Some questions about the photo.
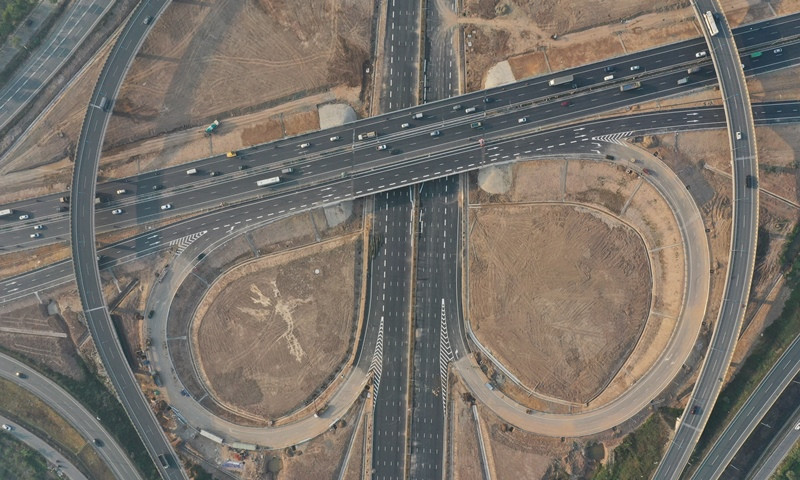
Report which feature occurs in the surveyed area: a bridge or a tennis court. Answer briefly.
bridge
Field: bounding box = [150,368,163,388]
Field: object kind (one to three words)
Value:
vehicle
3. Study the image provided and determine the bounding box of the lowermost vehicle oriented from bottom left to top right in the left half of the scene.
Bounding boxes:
[310,408,327,421]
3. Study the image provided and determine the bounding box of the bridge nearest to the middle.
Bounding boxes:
[344,91,490,199]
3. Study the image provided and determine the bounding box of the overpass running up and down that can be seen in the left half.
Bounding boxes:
[67,0,192,480]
